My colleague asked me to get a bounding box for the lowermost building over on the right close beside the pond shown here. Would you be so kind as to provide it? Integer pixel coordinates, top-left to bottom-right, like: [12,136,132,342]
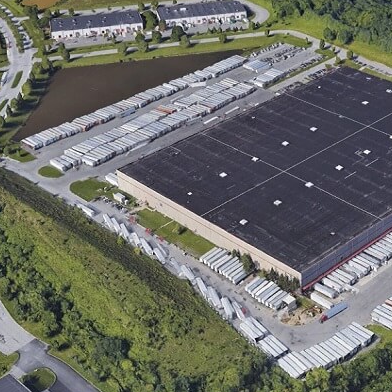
[117,66,392,290]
